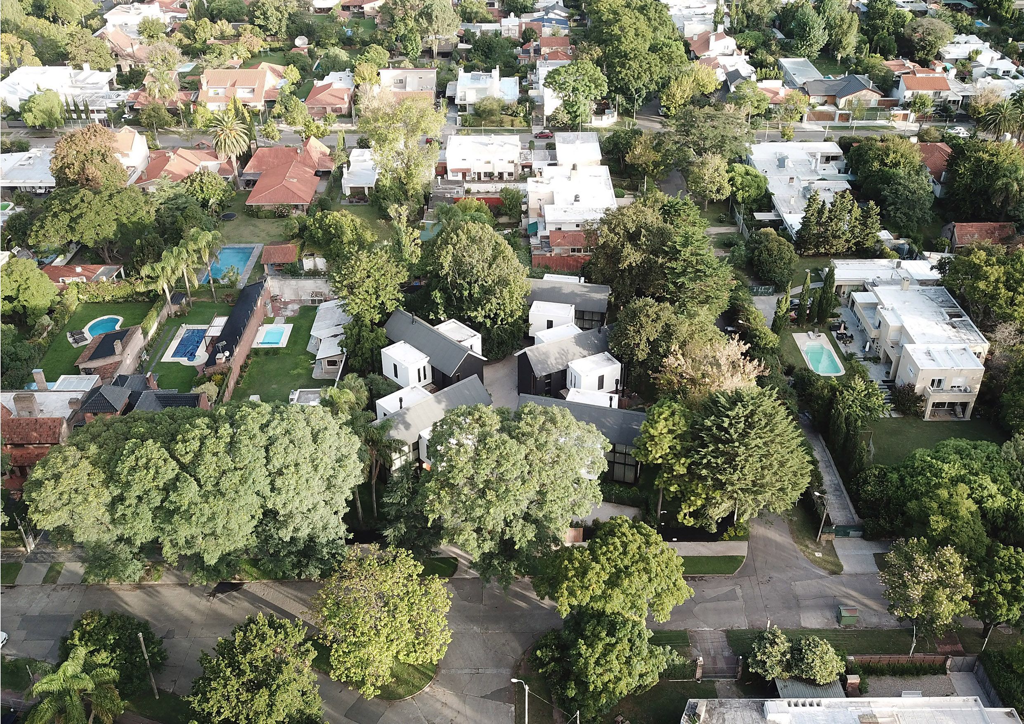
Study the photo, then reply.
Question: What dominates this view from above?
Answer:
trees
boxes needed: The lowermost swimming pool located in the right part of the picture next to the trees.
[792,332,840,375]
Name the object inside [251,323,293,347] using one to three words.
swimming pool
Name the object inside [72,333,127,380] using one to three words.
shed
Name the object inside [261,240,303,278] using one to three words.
building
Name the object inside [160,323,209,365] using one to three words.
swimming pool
